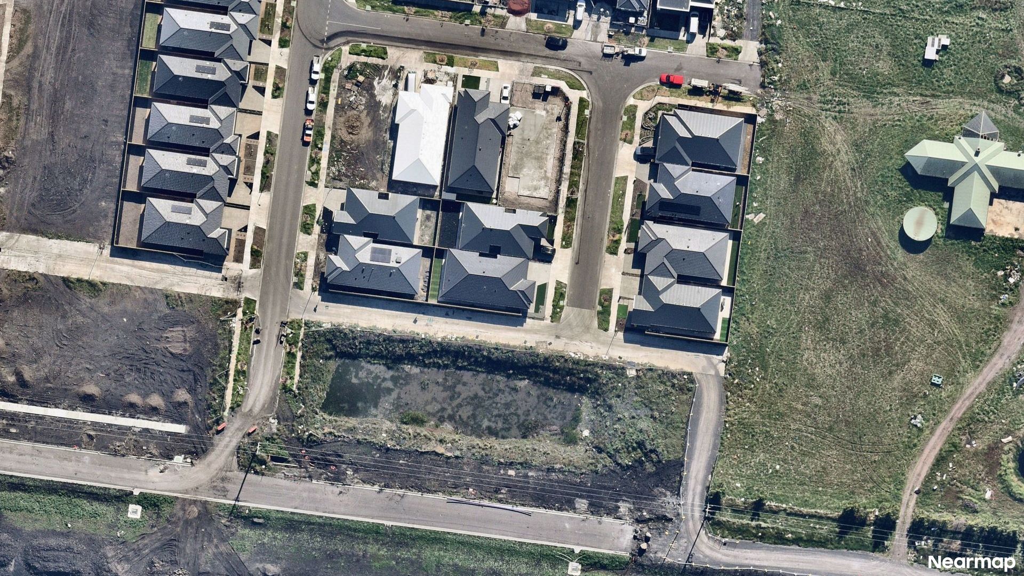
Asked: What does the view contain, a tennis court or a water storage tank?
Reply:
water storage tank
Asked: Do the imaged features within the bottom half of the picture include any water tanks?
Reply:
No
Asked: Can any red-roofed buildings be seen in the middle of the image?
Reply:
No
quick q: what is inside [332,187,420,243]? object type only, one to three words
house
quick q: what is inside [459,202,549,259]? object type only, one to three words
house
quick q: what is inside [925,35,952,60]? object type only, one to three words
shed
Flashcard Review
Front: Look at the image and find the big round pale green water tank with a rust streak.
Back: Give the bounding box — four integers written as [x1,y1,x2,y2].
[904,207,938,240]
